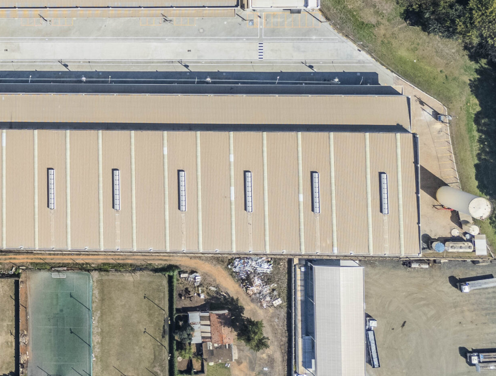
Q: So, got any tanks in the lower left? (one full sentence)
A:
No, in the lower left there is no tank.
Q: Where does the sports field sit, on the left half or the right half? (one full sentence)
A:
The sports field is on the left side of the image.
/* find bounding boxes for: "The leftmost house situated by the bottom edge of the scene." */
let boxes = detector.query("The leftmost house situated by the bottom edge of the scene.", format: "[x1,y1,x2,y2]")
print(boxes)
[187,311,234,362]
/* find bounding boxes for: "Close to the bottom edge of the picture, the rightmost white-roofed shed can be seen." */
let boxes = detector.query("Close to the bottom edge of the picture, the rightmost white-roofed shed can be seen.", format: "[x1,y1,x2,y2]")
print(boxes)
[304,258,366,376]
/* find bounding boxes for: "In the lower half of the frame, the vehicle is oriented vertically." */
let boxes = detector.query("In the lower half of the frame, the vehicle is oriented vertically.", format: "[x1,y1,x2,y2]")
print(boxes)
[365,316,379,368]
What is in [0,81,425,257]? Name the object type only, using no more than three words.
warehouse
